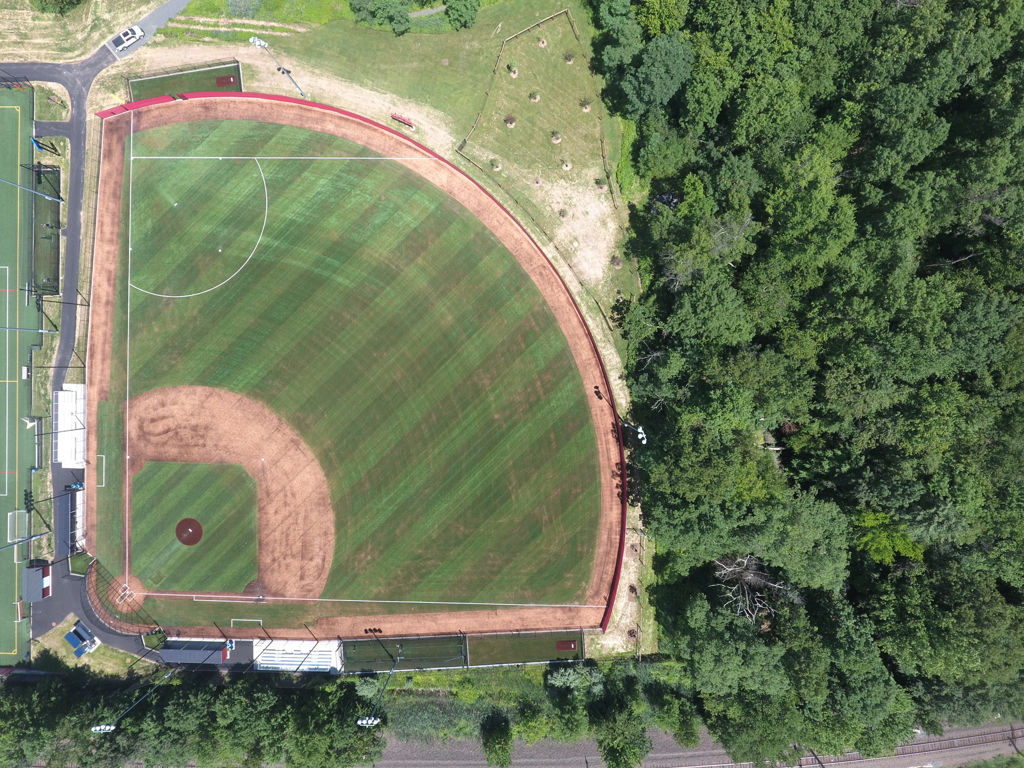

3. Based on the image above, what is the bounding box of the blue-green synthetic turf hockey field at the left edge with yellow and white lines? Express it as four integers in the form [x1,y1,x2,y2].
[0,86,42,666]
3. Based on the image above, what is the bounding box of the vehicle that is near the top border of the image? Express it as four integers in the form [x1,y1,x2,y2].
[111,24,143,51]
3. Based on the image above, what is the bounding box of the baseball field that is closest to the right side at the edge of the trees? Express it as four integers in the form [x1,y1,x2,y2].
[86,98,623,640]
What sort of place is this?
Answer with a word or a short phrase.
sports ground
